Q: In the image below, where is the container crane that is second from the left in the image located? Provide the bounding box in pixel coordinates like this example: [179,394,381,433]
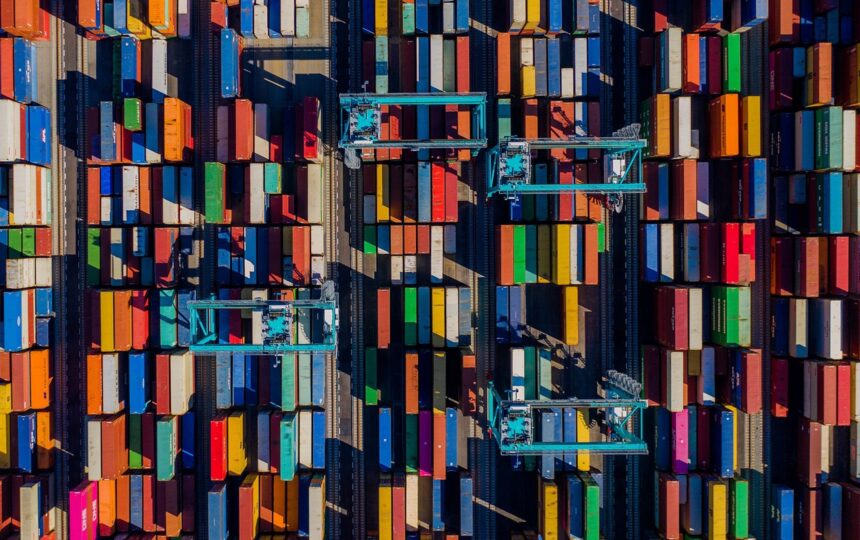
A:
[332,83,490,181]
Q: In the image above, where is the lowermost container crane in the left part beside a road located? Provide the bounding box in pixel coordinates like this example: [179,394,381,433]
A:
[186,277,345,364]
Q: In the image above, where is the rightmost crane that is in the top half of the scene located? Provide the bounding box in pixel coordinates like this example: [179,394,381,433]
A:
[486,115,648,215]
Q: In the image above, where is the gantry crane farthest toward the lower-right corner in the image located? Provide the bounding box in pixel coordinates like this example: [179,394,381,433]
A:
[488,364,651,464]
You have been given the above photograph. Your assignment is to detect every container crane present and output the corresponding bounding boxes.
[486,115,648,215]
[488,364,651,464]
[332,83,490,181]
[186,277,345,364]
